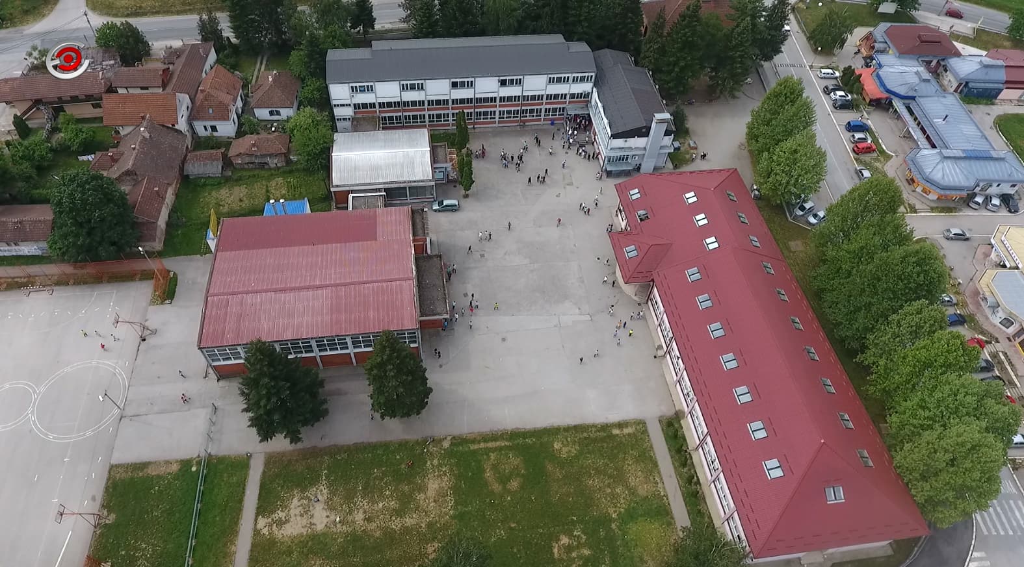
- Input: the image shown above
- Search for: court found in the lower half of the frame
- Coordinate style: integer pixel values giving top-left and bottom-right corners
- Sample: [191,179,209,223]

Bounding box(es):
[0,280,156,567]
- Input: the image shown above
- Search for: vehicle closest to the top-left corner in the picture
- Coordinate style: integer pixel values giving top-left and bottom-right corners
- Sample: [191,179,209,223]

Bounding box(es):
[431,197,460,212]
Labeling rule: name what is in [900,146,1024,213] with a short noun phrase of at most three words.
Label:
building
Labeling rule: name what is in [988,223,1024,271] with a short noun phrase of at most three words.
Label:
building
